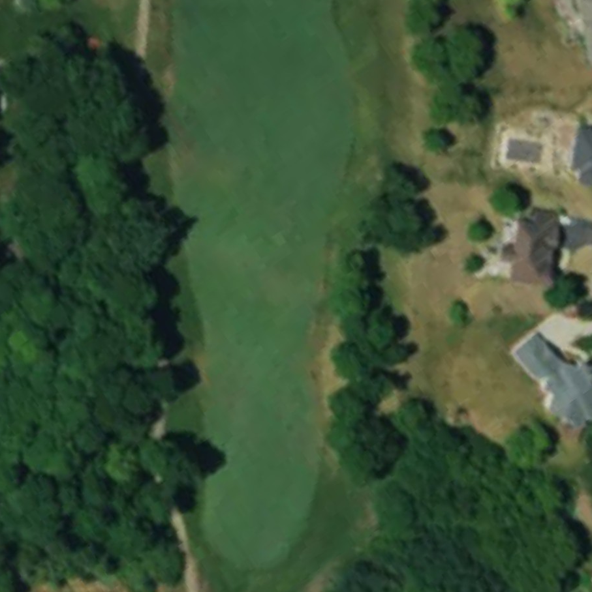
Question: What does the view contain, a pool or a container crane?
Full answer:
There is a pool in the scene.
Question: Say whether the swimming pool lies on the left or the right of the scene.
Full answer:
The swimming pool sits on the right side.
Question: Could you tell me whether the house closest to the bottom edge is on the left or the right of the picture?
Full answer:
The house closest to the bottom edge appears in the right half of the scene.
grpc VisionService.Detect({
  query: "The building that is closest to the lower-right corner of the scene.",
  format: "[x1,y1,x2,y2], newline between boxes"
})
[517,333,592,428]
